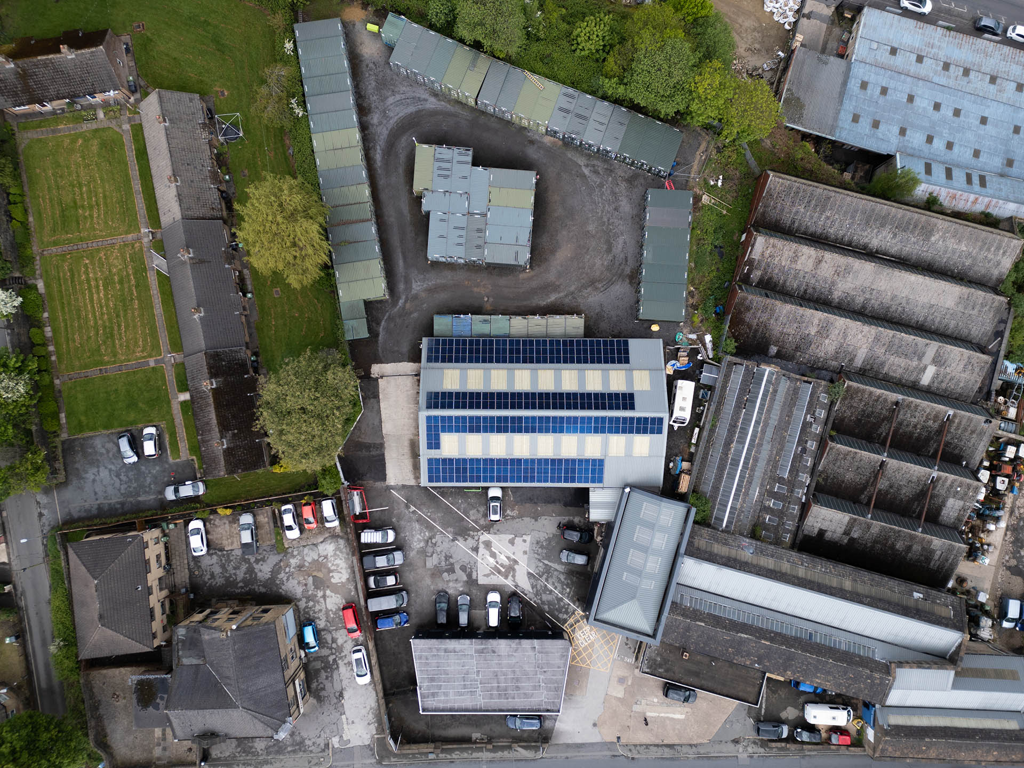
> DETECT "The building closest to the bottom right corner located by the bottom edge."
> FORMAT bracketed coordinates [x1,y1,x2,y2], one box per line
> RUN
[859,648,1024,765]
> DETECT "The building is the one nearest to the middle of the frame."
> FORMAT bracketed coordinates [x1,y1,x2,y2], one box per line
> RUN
[418,337,670,487]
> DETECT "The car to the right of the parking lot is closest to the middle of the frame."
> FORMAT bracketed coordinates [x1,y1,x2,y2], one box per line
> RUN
[487,487,503,523]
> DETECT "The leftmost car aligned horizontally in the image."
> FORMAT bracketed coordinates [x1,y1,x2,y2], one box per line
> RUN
[166,480,207,498]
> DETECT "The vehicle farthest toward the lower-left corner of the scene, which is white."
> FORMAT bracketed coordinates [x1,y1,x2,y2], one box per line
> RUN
[188,518,209,557]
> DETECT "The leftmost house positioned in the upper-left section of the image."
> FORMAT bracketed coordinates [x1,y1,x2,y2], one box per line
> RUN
[0,29,133,121]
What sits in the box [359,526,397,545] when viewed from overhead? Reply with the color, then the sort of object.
white vehicle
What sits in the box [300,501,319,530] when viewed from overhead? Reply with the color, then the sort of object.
red car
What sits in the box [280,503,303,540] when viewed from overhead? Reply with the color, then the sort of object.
white car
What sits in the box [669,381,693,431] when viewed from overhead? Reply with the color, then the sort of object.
white camper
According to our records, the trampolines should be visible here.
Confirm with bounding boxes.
[224,125,241,142]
